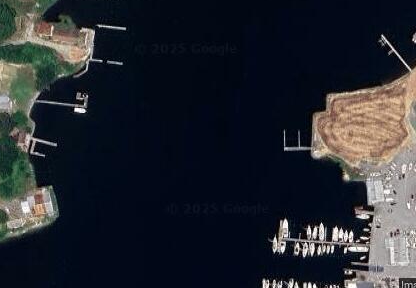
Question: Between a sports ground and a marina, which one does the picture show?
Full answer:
The picture captures a marina.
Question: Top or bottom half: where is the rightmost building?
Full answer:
The bottom half of the photo is where the rightmost building is.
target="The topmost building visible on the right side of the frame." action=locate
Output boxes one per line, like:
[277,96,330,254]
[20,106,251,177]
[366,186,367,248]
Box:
[368,180,386,202]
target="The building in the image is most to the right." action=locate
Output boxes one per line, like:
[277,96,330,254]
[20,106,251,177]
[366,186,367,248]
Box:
[386,237,410,265]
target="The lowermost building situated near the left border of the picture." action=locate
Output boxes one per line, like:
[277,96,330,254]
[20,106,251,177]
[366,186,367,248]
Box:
[21,189,54,215]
